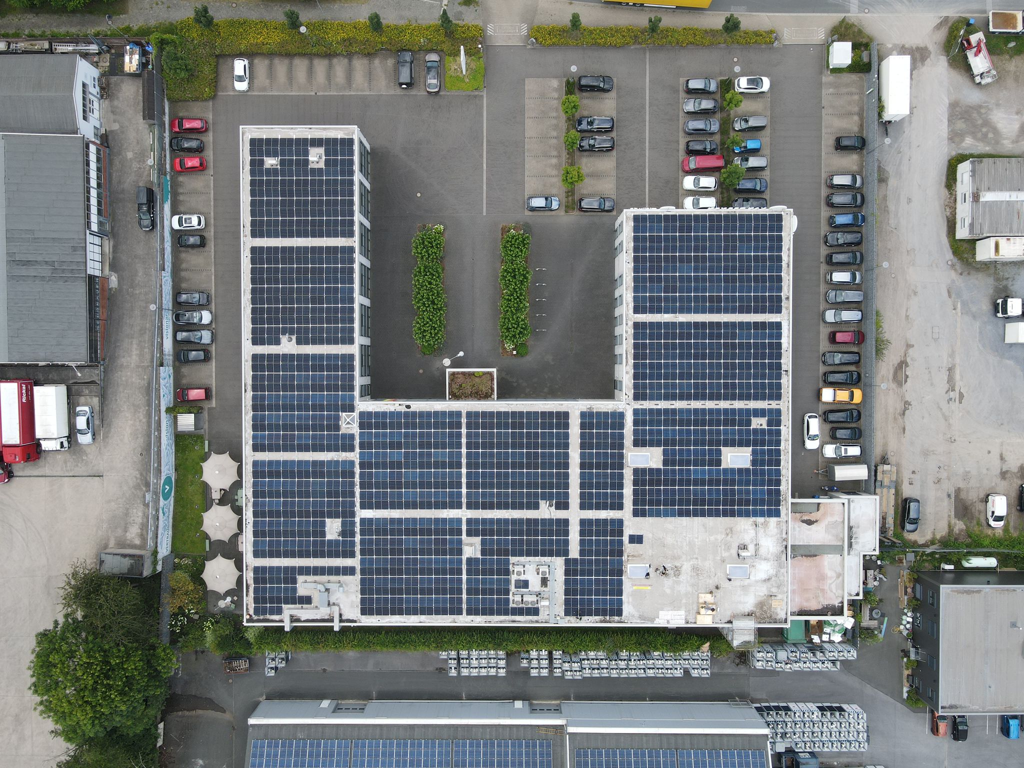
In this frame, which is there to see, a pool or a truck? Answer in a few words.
truck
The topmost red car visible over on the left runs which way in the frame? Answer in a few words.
horizontally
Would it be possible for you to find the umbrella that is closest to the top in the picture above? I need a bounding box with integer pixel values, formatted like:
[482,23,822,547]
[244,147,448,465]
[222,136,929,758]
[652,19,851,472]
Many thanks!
[203,452,241,490]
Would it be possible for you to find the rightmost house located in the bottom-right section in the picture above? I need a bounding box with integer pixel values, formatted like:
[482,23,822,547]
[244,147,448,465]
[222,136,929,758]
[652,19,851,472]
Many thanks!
[911,571,1024,714]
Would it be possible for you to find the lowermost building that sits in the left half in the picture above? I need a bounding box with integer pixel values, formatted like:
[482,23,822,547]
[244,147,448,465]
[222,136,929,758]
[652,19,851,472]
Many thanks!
[245,694,566,768]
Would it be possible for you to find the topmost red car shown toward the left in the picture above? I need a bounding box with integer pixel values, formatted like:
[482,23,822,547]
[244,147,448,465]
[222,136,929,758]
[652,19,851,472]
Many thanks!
[170,115,209,135]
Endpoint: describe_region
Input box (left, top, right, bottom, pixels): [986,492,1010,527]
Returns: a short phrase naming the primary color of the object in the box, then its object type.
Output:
white vehicle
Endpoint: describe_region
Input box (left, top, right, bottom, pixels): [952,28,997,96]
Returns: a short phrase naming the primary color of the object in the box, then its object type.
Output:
white truck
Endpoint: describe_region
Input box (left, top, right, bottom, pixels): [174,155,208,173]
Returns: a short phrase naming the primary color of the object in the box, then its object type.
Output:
red car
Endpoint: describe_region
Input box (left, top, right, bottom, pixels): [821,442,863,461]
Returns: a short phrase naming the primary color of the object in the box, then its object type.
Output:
white car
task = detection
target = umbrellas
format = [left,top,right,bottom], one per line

[203,452,241,490]
[204,502,242,541]
[203,554,244,594]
